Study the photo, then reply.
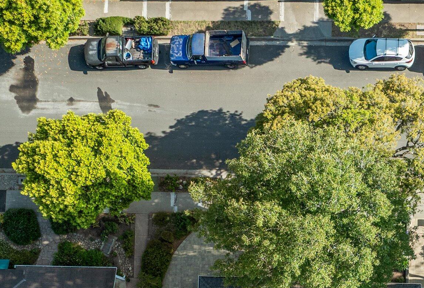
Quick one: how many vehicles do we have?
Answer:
three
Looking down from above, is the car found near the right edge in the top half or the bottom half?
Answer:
top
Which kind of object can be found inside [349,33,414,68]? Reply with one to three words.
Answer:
car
